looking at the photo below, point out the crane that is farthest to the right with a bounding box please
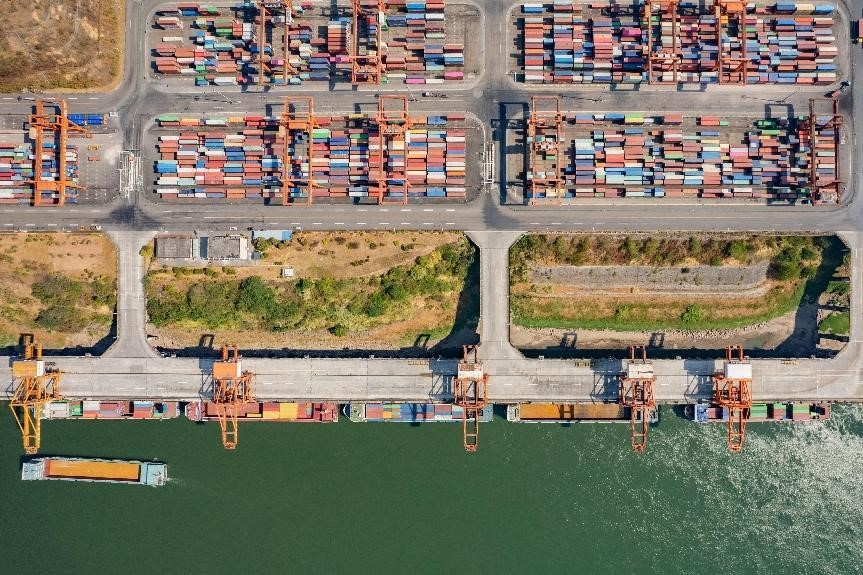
[785,97,843,207]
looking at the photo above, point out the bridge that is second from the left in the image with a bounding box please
[464,232,527,358]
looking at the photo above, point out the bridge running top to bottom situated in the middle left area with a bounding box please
[99,232,162,357]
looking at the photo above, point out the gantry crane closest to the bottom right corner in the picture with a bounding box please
[700,345,756,454]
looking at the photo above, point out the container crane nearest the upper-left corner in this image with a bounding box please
[28,99,93,208]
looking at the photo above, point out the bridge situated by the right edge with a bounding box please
[830,232,863,359]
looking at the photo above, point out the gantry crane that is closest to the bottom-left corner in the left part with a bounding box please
[9,343,75,451]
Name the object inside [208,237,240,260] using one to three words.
building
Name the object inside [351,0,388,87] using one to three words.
container crane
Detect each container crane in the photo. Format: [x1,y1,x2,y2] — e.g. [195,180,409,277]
[606,344,654,453]
[448,344,488,453]
[637,0,678,87]
[375,94,415,207]
[28,99,93,208]
[259,0,302,87]
[785,97,843,207]
[700,345,756,454]
[521,95,562,207]
[213,343,261,452]
[704,0,748,87]
[9,343,75,451]
[279,95,325,207]
[351,0,388,87]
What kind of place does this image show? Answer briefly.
port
